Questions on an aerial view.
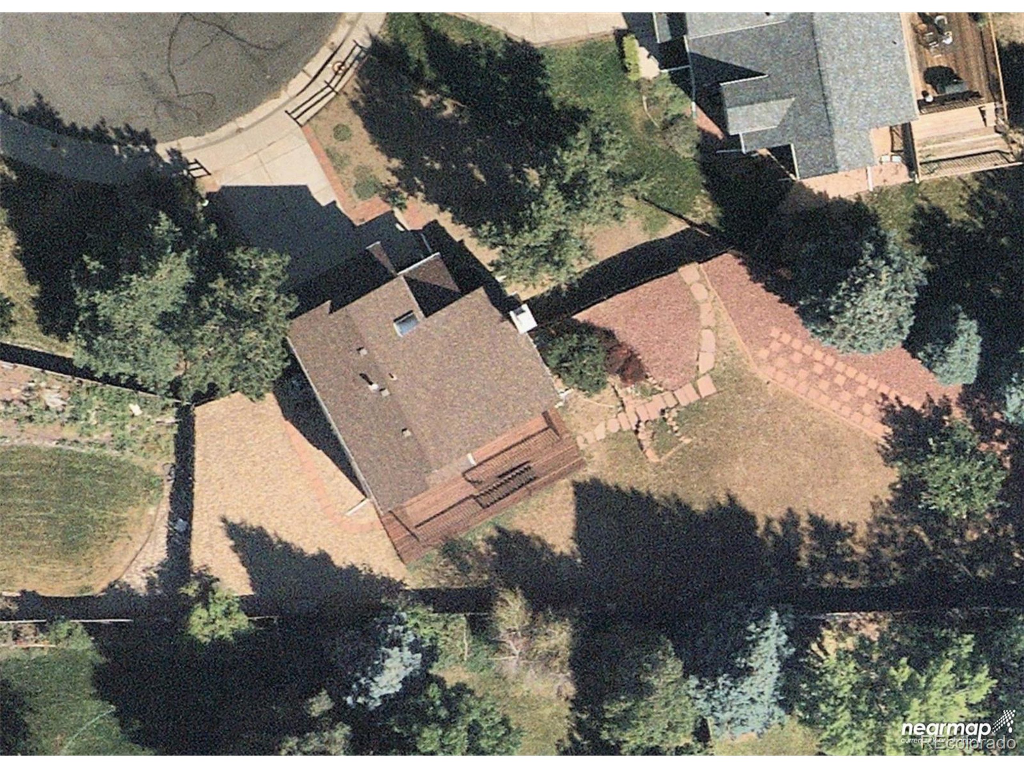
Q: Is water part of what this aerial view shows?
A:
No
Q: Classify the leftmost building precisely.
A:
house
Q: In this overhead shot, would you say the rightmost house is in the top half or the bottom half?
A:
top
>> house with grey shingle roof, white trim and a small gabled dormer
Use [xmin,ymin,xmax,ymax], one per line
[676,0,920,192]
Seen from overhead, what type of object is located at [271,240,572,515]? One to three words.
house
